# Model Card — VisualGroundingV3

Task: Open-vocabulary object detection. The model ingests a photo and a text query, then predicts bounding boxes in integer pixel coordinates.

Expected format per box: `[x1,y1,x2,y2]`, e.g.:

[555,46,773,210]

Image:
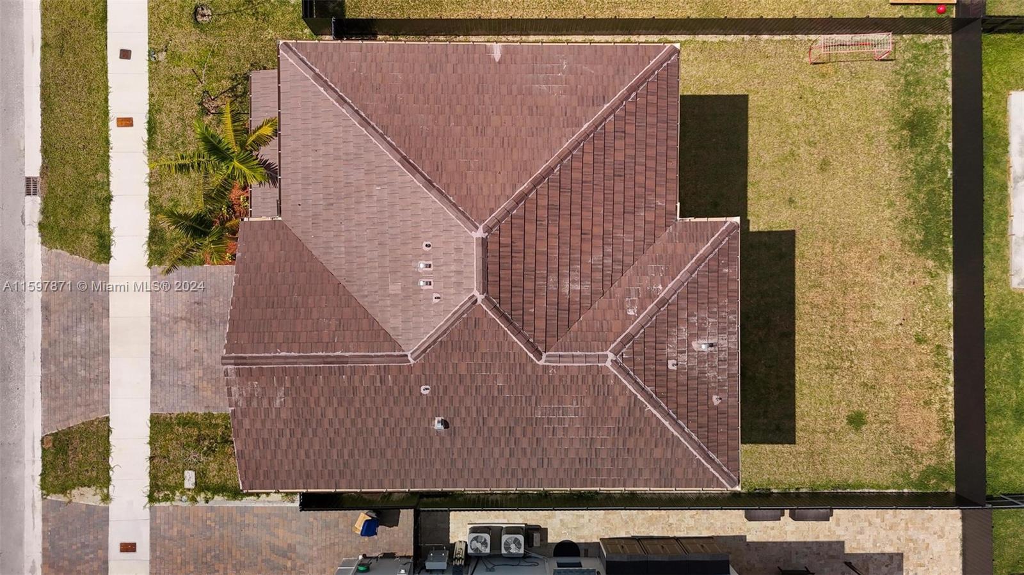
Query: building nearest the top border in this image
[220,39,743,494]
